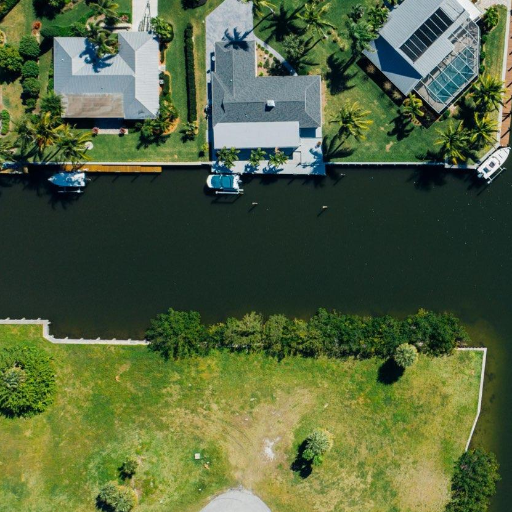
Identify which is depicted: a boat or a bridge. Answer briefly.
boat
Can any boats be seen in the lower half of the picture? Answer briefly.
No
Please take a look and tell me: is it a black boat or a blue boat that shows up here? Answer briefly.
blue boat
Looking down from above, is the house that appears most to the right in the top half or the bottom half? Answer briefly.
top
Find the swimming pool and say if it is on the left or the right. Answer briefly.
right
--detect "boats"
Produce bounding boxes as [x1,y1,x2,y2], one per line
[477,146,511,179]
[45,172,90,185]
[205,173,242,190]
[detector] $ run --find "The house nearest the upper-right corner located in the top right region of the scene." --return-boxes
[363,0,482,96]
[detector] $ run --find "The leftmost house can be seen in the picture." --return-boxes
[53,31,162,119]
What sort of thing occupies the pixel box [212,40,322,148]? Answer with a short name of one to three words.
house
